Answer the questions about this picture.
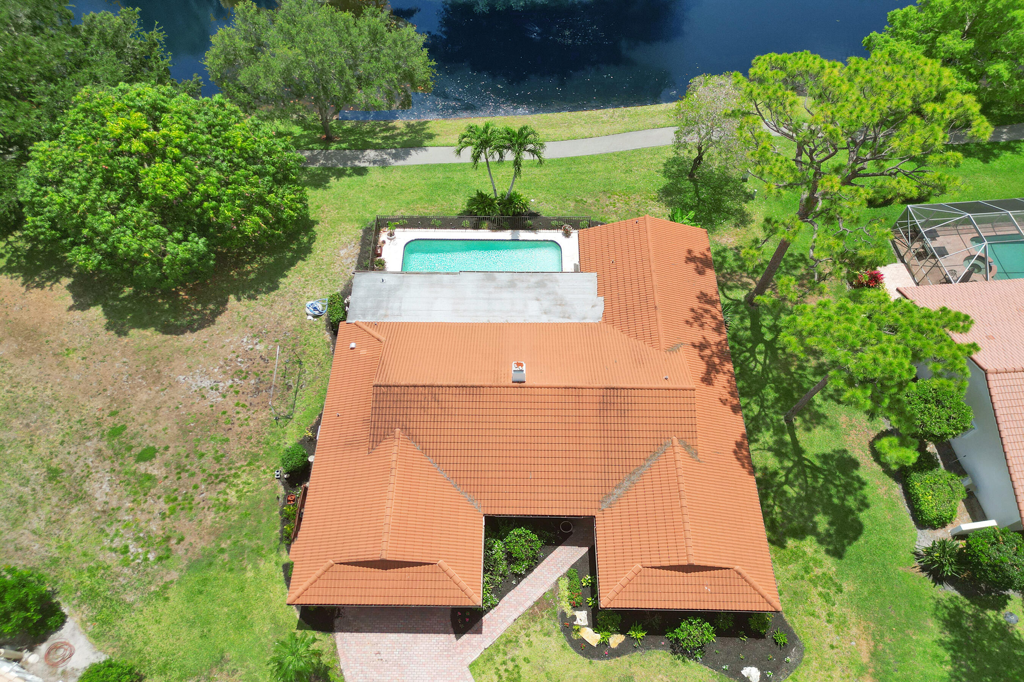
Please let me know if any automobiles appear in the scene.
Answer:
No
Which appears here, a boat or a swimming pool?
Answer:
swimming pool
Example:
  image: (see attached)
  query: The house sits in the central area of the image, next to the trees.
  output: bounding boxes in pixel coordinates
[286,211,782,614]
